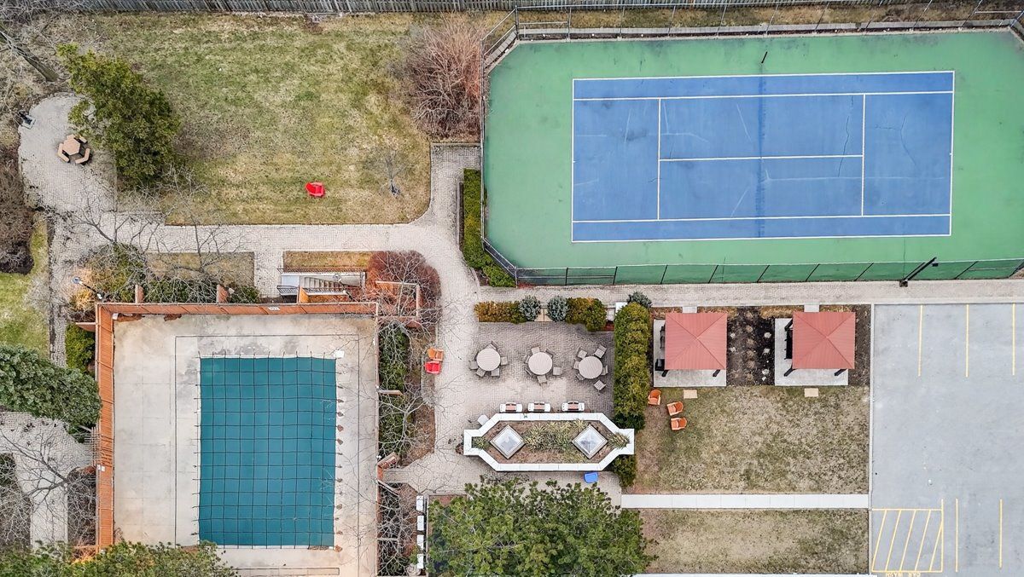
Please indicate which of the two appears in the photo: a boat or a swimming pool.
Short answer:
swimming pool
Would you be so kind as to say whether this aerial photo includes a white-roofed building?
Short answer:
No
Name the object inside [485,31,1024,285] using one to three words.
tennis court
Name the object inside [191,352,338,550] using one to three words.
swimming pool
